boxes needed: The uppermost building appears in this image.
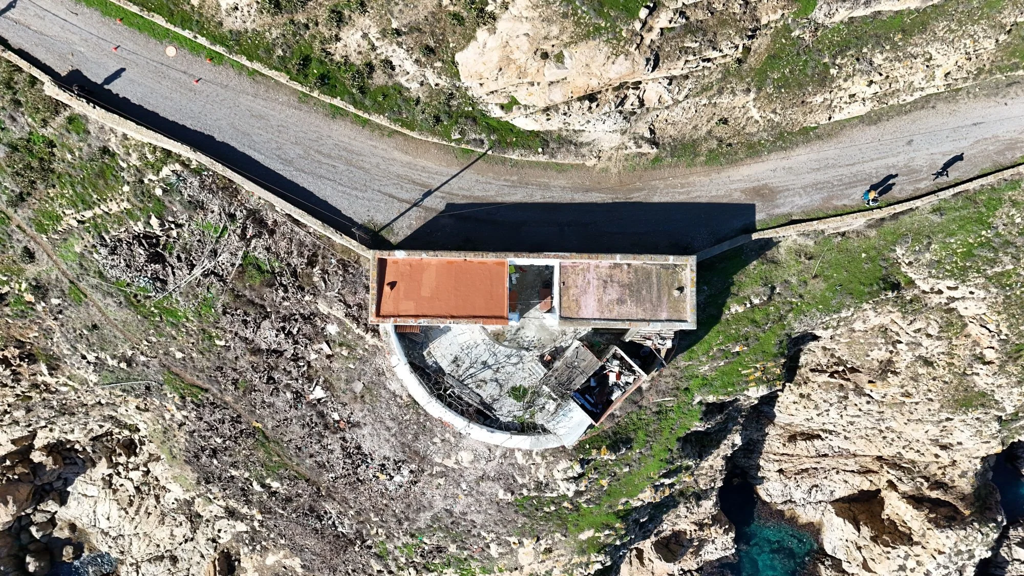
[370,250,696,328]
